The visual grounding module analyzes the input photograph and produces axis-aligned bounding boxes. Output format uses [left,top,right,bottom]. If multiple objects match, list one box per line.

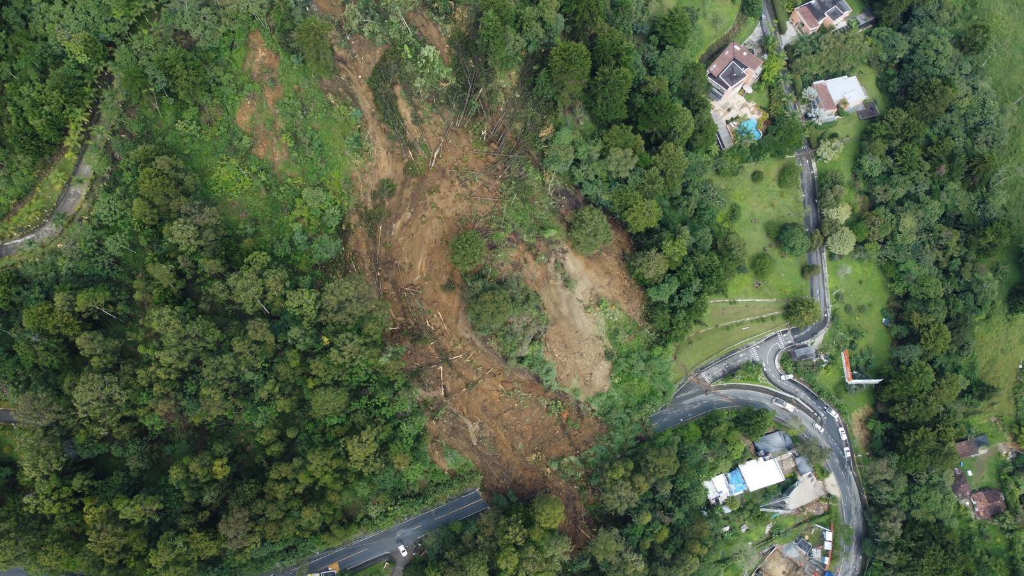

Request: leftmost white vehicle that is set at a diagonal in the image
[394,540,409,558]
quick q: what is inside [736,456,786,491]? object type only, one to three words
building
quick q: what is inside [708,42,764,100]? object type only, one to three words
house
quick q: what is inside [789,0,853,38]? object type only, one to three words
house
